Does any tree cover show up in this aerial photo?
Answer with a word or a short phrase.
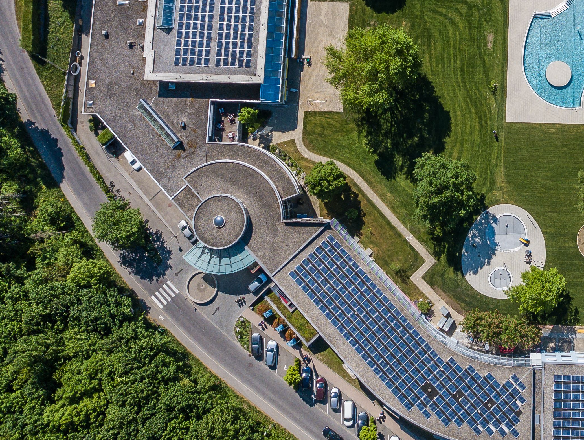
Yes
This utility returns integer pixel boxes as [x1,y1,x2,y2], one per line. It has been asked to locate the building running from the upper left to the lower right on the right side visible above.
[252,217,532,440]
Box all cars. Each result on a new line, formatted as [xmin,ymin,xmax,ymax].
[316,376,326,400]
[122,150,143,172]
[390,435,400,440]
[251,333,262,358]
[329,387,341,410]
[301,366,312,388]
[246,272,269,293]
[321,425,344,440]
[357,411,367,432]
[265,340,277,366]
[177,219,196,243]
